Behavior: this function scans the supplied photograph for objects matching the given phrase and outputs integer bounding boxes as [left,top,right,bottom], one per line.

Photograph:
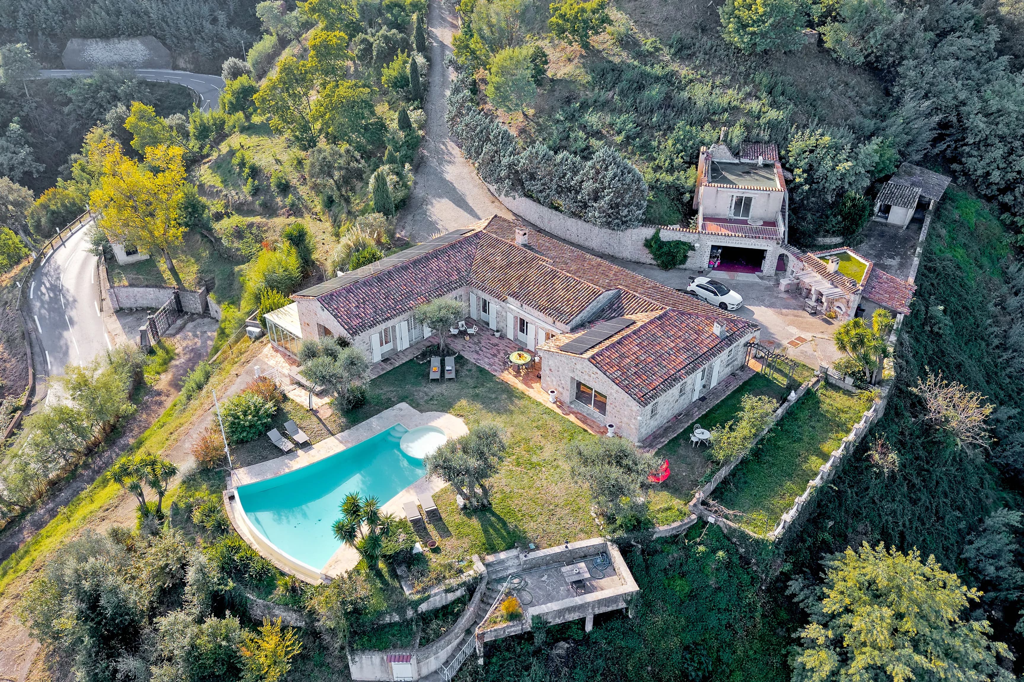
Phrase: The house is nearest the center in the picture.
[262,214,762,446]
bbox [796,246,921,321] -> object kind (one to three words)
building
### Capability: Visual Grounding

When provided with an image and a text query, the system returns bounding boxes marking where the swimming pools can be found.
[211,402,466,604]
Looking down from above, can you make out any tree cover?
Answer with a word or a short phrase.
Yes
